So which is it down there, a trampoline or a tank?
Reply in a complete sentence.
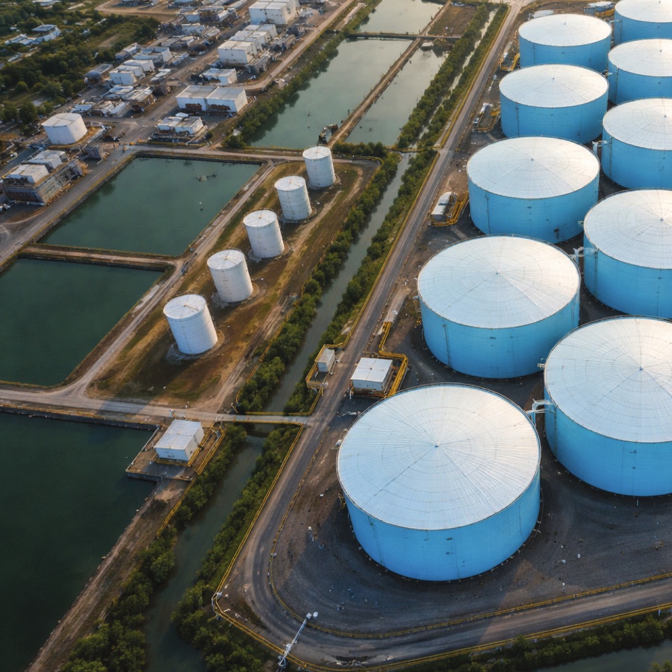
There is a tank in the scene.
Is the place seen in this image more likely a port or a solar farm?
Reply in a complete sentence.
The area seen from above is a port.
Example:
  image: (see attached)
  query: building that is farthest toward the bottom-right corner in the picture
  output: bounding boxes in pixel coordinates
[348,357,395,397]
